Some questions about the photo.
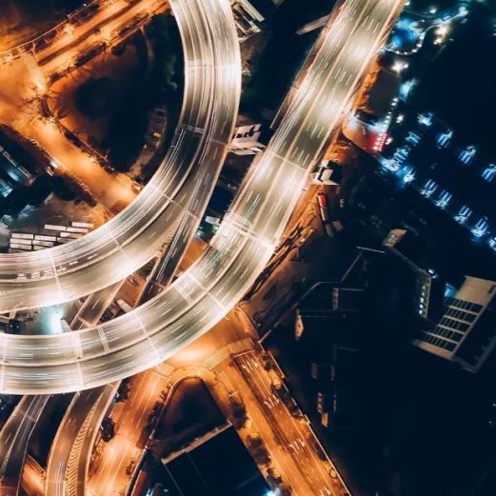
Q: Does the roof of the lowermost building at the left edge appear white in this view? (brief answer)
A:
No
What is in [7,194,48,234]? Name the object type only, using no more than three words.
building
